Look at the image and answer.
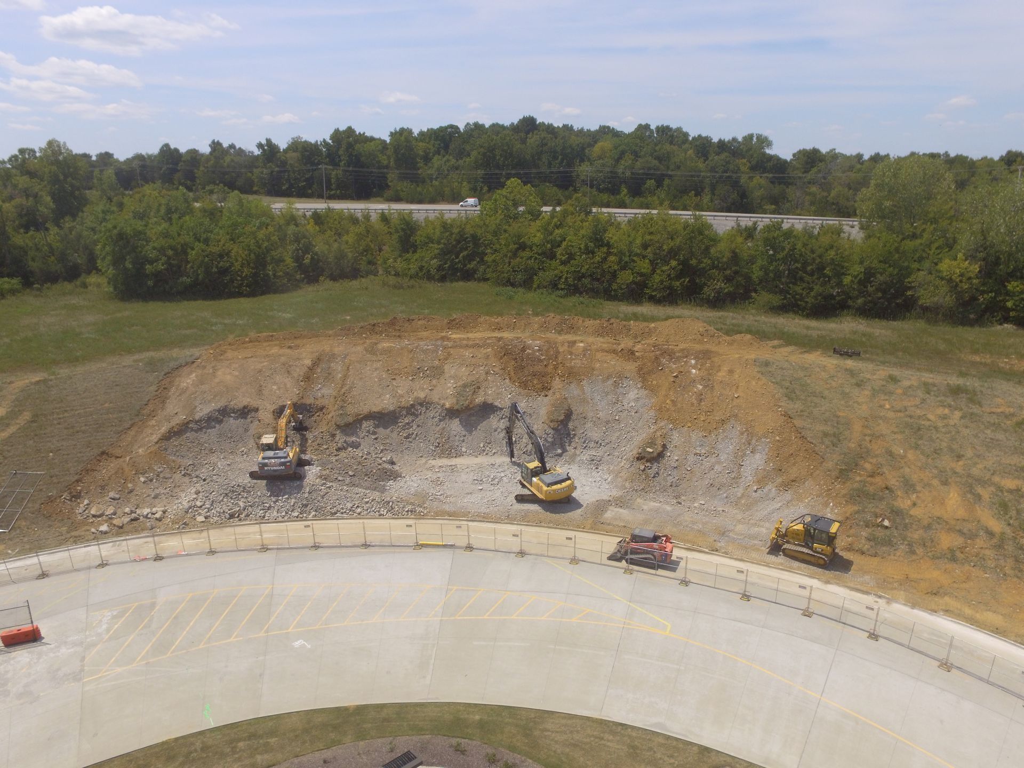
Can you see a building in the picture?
No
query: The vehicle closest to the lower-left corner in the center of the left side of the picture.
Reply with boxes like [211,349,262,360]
[248,405,309,481]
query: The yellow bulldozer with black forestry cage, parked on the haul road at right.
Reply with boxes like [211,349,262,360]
[763,511,848,569]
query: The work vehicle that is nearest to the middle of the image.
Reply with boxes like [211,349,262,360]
[507,400,574,503]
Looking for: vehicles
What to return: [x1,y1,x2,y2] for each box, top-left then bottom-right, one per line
[507,400,574,503]
[248,405,309,481]
[603,525,674,570]
[763,511,848,569]
[460,199,479,209]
